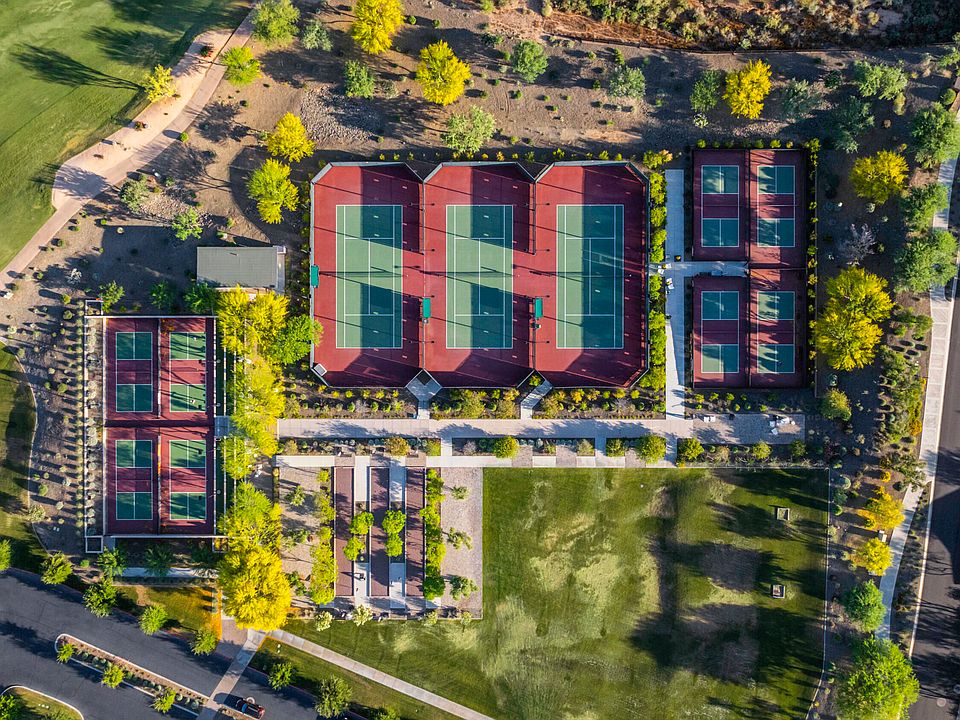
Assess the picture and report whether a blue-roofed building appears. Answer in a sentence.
No, there appears to be no blue-roofed building in this shot.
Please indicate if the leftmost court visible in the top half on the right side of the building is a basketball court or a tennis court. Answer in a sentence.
From above, the leftmost court visible in the top half on the right side of the building can be identified as a tennis court.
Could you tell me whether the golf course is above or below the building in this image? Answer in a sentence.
Relative to the building, the golf course lies above it.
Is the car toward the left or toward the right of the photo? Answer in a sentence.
The car appears in the left half of the scene.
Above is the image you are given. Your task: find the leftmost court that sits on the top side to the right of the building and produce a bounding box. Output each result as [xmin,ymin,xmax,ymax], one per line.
[314,167,425,387]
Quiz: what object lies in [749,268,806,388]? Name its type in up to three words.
sports court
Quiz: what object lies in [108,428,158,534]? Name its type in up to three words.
sports court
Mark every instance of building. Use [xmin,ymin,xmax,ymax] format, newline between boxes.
[196,246,286,291]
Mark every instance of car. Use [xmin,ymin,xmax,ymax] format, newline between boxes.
[236,698,268,720]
